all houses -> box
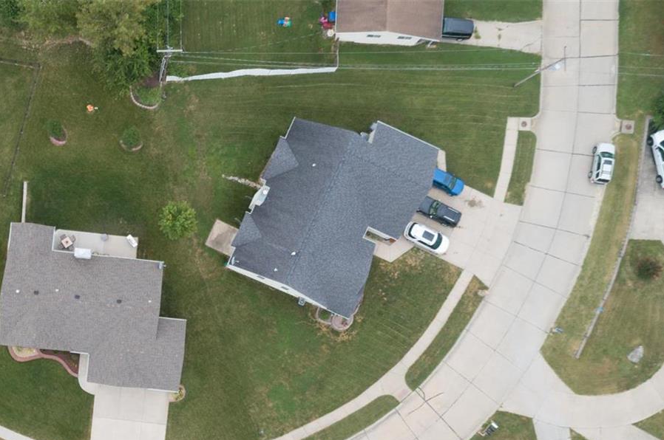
[0,221,187,393]
[333,0,442,49]
[227,117,440,319]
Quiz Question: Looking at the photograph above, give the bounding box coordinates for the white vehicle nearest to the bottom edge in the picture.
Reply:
[402,223,449,254]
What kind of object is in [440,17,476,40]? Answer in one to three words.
vehicle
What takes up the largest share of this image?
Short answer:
grass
